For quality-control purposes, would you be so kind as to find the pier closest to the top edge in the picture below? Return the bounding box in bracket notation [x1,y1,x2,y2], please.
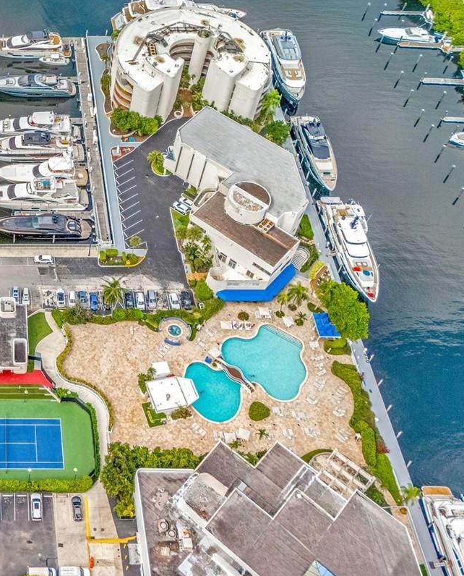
[379,8,436,27]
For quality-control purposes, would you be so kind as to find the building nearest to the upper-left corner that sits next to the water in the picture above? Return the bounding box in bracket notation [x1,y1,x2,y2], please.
[111,8,274,132]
